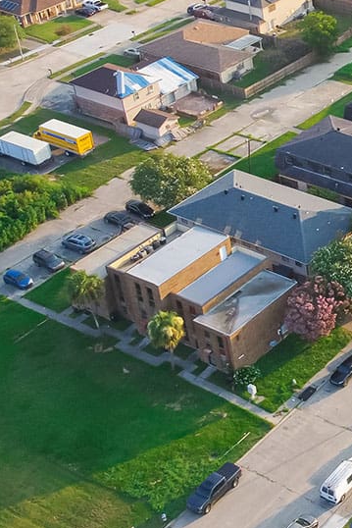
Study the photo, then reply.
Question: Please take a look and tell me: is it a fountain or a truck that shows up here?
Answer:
truck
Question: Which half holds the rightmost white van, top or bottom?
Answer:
bottom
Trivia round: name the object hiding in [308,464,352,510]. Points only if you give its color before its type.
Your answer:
white van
